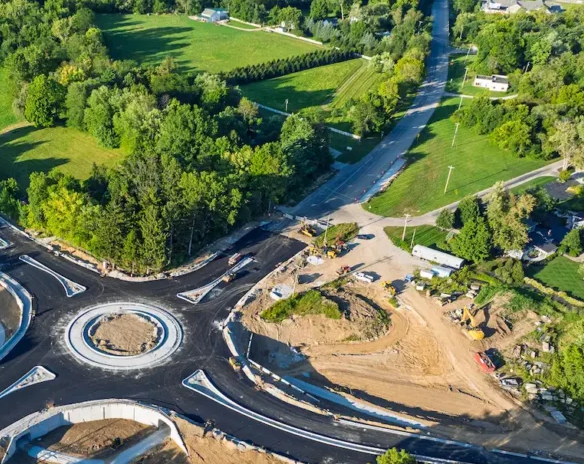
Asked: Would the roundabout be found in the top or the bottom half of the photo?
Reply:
bottom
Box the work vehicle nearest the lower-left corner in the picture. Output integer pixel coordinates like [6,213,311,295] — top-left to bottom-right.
[231,356,244,373]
